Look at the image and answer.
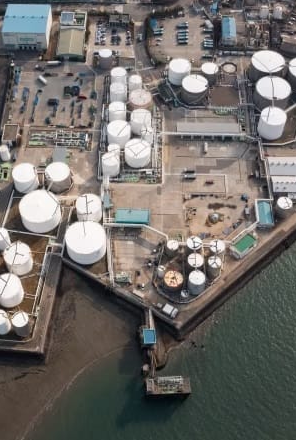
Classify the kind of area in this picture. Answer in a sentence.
What you see here is an industrial area.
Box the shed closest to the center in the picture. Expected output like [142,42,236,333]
[116,208,150,225]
